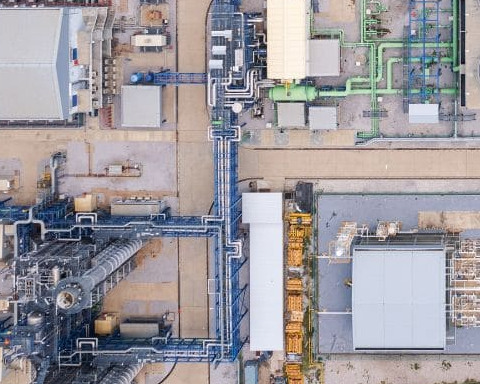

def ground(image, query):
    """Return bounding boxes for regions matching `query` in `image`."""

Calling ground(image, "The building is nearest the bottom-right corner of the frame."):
[352,224,448,351]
